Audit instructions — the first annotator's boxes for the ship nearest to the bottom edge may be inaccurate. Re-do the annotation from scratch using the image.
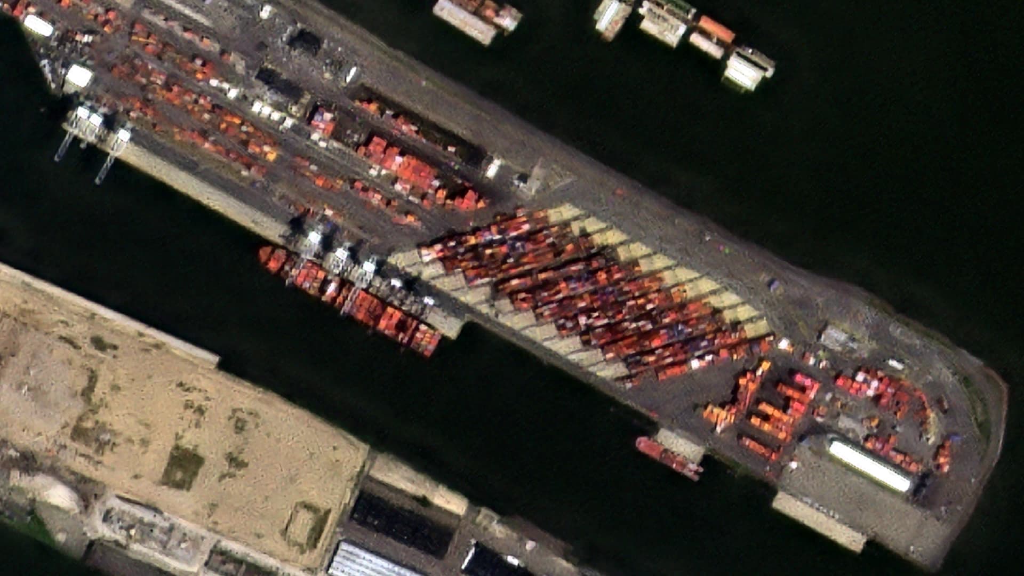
[635,440,705,482]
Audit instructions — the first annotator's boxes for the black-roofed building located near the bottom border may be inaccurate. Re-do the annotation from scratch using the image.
[466,546,529,576]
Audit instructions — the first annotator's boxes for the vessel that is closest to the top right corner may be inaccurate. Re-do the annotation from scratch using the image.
[722,45,773,93]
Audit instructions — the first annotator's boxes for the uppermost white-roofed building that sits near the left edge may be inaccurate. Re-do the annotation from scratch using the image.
[23,13,54,37]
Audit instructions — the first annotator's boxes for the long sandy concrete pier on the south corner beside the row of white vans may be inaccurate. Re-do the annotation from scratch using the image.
[772,489,868,553]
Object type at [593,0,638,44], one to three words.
vessel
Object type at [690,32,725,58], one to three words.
ship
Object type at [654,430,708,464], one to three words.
pier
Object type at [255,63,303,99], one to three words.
building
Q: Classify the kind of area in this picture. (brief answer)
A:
port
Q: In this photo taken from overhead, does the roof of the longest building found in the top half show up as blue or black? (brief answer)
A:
black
